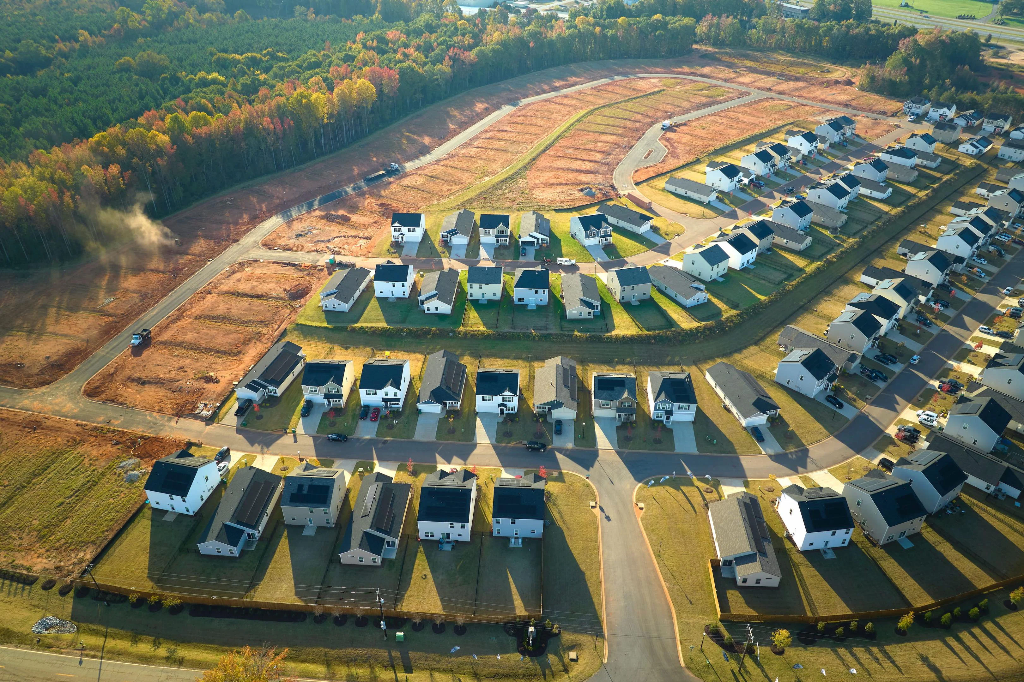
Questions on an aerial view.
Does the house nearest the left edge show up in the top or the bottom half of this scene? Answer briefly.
bottom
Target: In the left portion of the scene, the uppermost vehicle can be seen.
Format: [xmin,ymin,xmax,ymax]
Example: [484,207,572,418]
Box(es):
[367,160,401,178]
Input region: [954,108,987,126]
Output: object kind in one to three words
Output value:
house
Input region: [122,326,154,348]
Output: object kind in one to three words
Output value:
truck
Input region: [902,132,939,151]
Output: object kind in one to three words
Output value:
house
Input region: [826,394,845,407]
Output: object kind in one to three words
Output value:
vehicle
